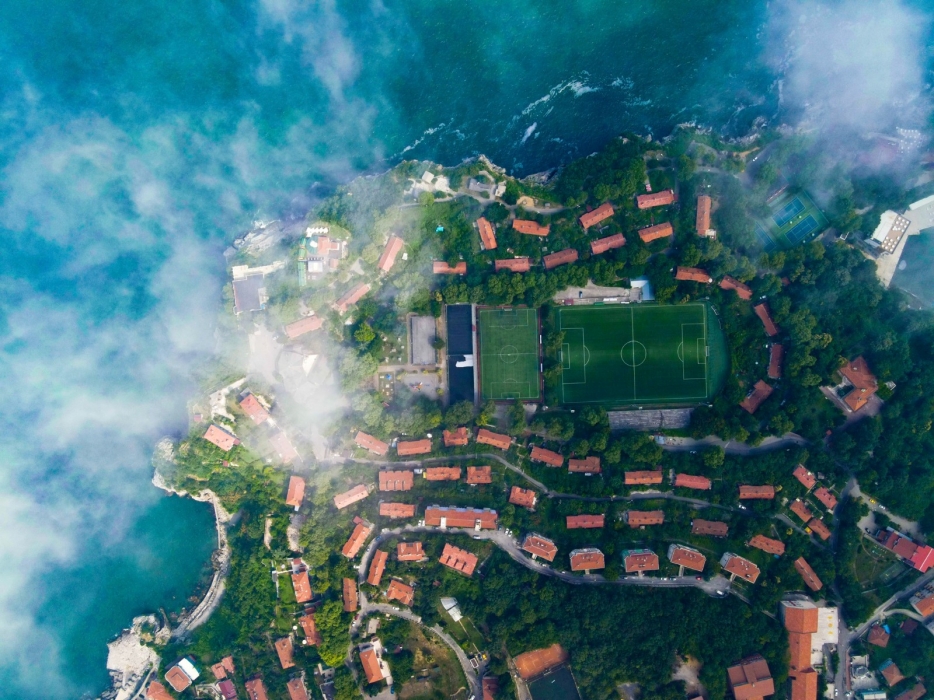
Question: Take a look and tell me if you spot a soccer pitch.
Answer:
Yes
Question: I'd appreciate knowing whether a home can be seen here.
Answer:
Yes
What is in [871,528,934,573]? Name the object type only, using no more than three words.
building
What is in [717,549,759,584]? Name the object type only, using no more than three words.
building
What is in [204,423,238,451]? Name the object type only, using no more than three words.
house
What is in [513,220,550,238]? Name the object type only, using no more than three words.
house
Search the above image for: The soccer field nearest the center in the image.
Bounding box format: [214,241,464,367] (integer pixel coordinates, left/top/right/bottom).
[475,303,545,405]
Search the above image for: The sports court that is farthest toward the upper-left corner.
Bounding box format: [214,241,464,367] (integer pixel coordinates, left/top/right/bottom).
[407,314,436,366]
